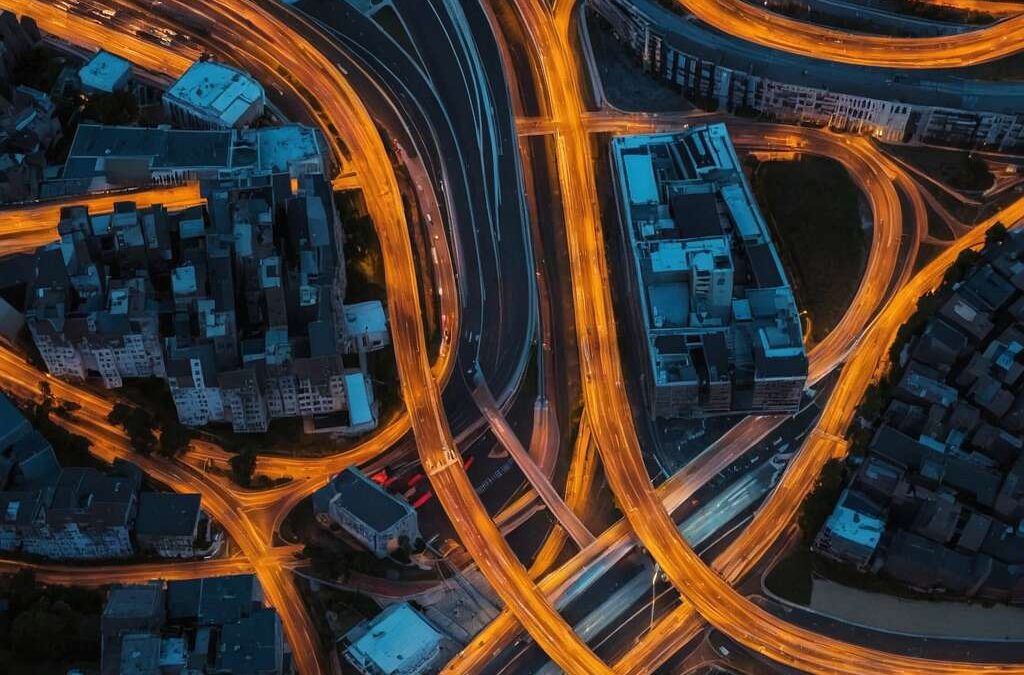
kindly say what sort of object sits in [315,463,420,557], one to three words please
building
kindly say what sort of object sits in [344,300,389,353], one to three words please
house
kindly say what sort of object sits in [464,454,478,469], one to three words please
vehicle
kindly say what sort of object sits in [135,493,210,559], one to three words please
building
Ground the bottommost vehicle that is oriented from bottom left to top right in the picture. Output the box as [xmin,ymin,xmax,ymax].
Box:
[717,640,732,659]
